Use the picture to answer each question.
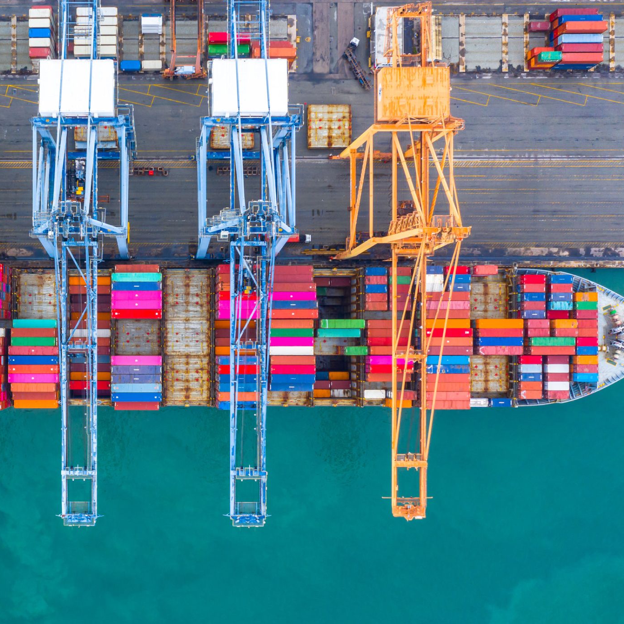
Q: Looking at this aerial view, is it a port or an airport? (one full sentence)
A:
The picture captures a port.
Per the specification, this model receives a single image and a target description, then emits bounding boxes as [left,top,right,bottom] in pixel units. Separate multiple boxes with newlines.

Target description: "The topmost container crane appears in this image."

[162,0,208,78]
